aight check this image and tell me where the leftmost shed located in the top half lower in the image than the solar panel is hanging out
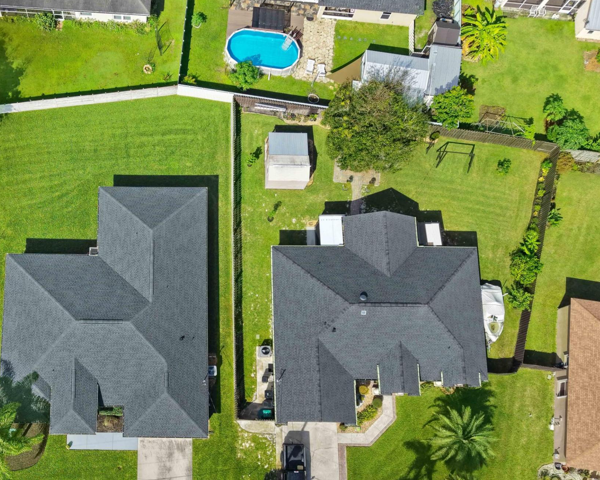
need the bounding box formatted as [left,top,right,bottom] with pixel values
[266,132,310,189]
